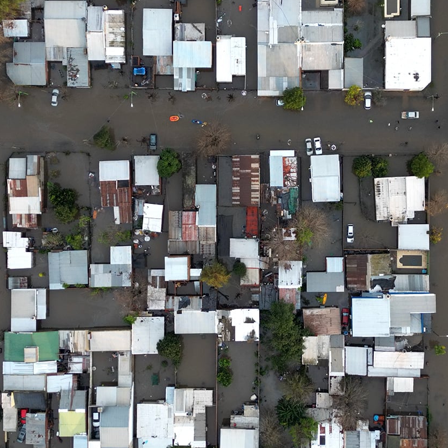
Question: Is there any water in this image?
Yes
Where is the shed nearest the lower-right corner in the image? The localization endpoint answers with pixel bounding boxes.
[386,413,432,448]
